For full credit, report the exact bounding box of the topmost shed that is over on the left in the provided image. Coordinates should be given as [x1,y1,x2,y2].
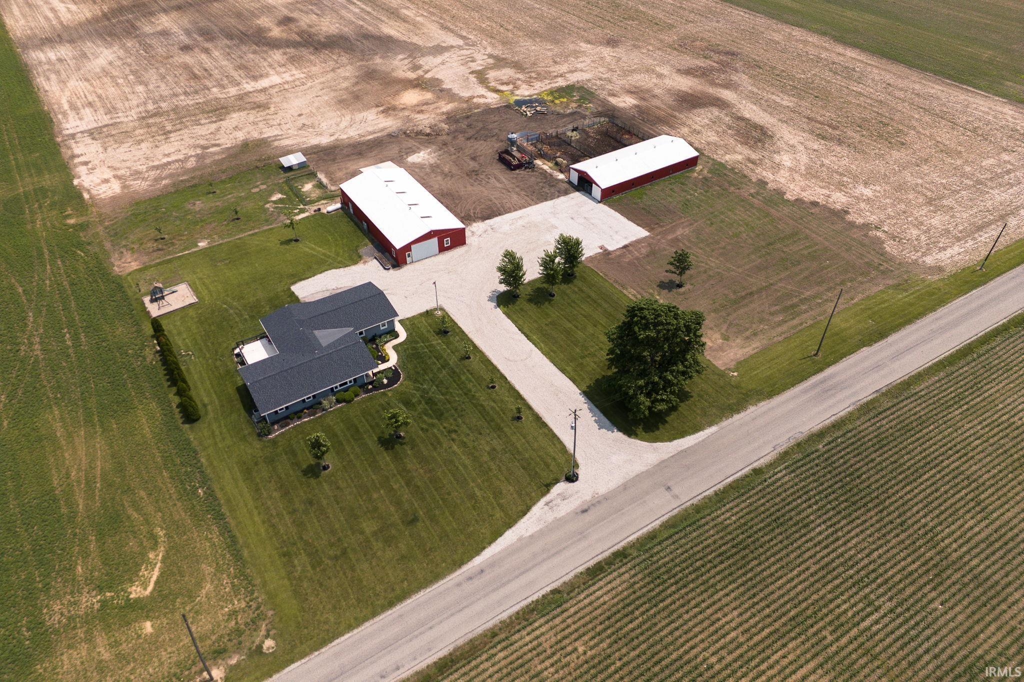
[278,150,308,171]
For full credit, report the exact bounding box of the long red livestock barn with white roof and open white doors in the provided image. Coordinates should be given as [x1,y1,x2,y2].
[569,135,700,202]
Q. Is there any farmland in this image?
Yes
